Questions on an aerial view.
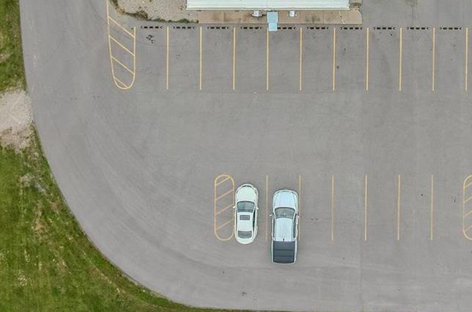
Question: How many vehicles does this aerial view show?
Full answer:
Looking from above, you can make out 2 vehicles.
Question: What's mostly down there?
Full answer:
The bulk of the photo consists of paved ground.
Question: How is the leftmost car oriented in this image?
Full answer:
Seen from above, the leftmost car lies vertically.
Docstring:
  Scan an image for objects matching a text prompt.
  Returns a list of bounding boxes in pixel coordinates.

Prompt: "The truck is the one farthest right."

[269,191,299,266]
